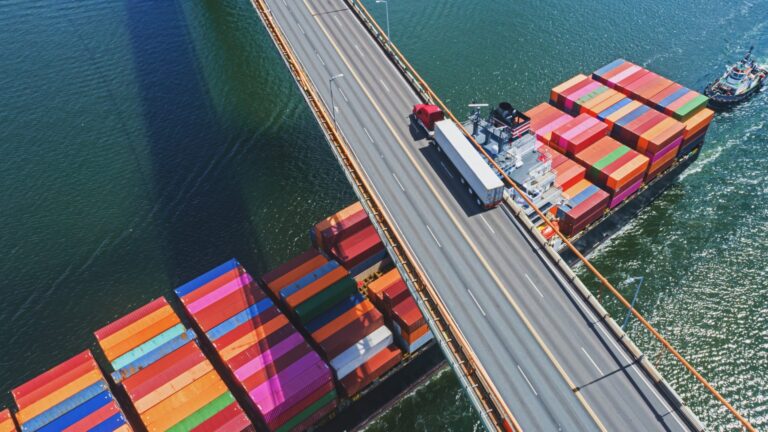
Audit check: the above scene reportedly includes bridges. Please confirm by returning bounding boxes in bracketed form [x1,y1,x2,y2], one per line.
[249,0,758,432]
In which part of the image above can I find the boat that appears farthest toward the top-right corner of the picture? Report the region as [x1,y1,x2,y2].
[704,44,768,104]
